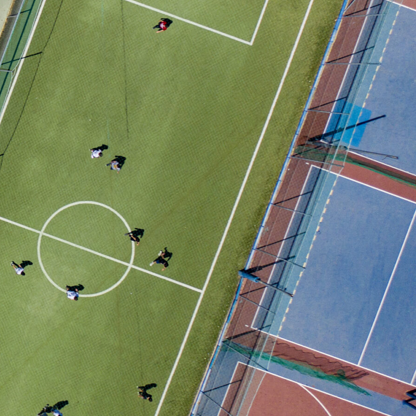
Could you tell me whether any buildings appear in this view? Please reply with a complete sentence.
No, there isn't any building down there.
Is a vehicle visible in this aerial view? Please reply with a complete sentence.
No, the photo shows no vehicle.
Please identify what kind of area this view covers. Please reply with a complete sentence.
It's a sports ground.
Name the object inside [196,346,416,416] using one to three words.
sports court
